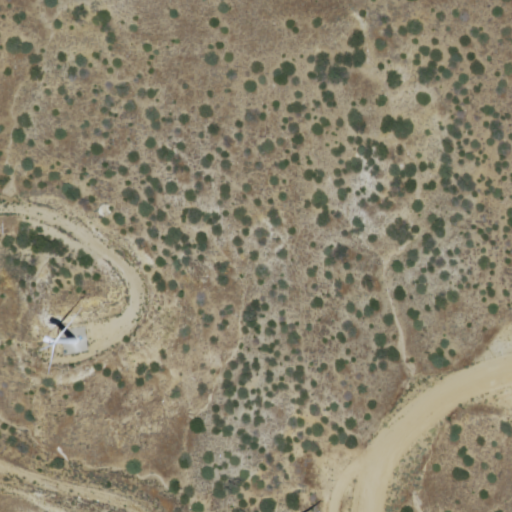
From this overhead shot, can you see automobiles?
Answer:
No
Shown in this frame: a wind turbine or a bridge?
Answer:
wind turbine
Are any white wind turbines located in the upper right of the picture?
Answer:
No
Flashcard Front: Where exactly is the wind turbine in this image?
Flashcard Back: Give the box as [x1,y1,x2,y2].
[36,310,82,373]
